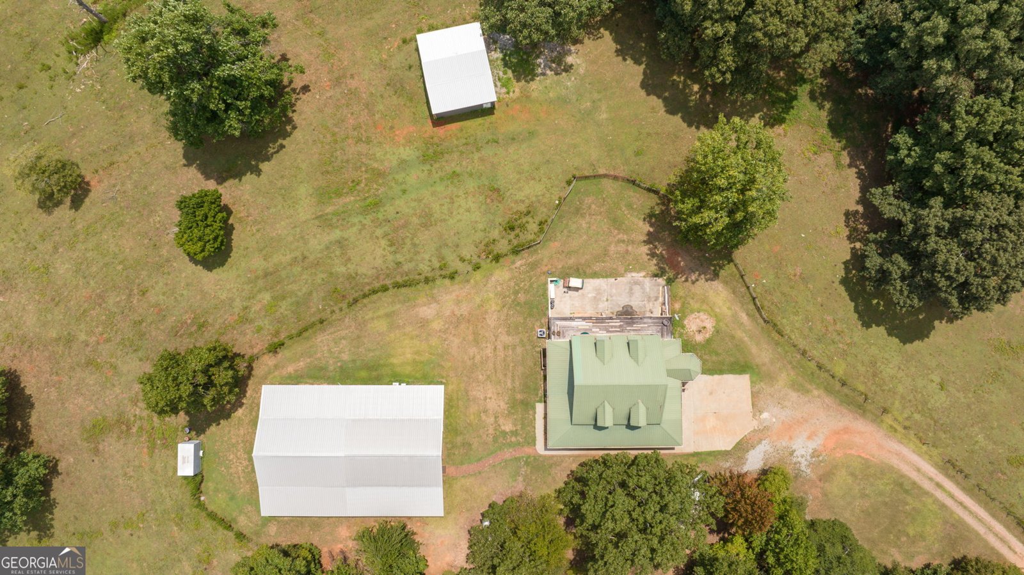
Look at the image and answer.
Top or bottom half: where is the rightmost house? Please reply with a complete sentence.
Seen from above, the rightmost house lies in the bottom half of the view.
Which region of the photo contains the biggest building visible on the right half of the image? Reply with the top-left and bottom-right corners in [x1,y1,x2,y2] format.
[546,334,701,448]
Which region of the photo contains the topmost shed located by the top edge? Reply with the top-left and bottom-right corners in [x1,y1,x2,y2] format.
[416,22,496,119]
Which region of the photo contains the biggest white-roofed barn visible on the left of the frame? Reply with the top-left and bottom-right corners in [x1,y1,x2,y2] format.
[254,384,446,517]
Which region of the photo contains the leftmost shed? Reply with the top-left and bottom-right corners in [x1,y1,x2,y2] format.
[178,441,204,476]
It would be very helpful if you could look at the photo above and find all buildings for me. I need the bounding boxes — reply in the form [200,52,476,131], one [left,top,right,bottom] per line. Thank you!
[178,441,204,476]
[416,22,496,119]
[254,384,446,517]
[546,334,701,448]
